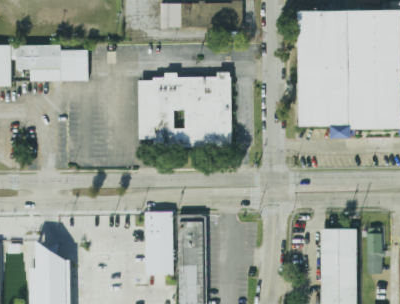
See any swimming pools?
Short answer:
No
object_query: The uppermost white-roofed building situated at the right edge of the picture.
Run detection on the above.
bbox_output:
[298,11,400,129]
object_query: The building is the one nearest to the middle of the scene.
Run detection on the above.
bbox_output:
[138,72,233,145]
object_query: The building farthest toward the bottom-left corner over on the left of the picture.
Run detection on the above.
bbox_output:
[29,242,72,304]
